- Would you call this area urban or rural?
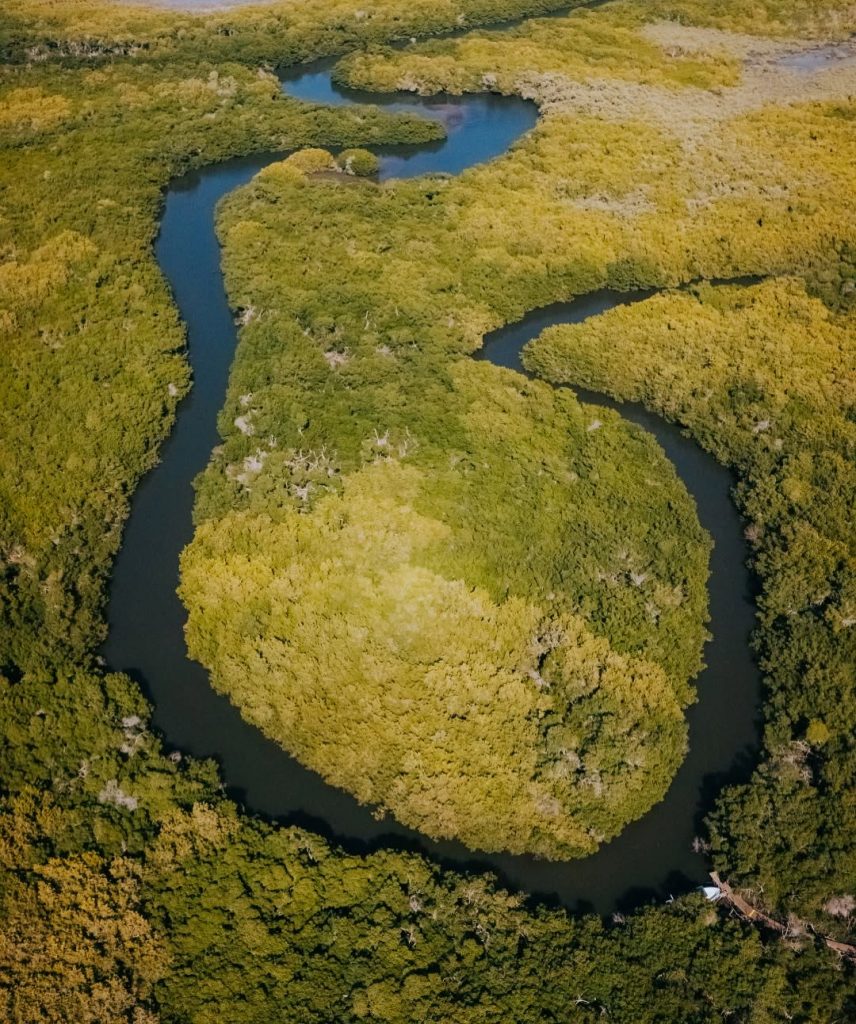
rural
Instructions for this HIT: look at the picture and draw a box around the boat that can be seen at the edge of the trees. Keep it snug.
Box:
[697,883,721,901]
